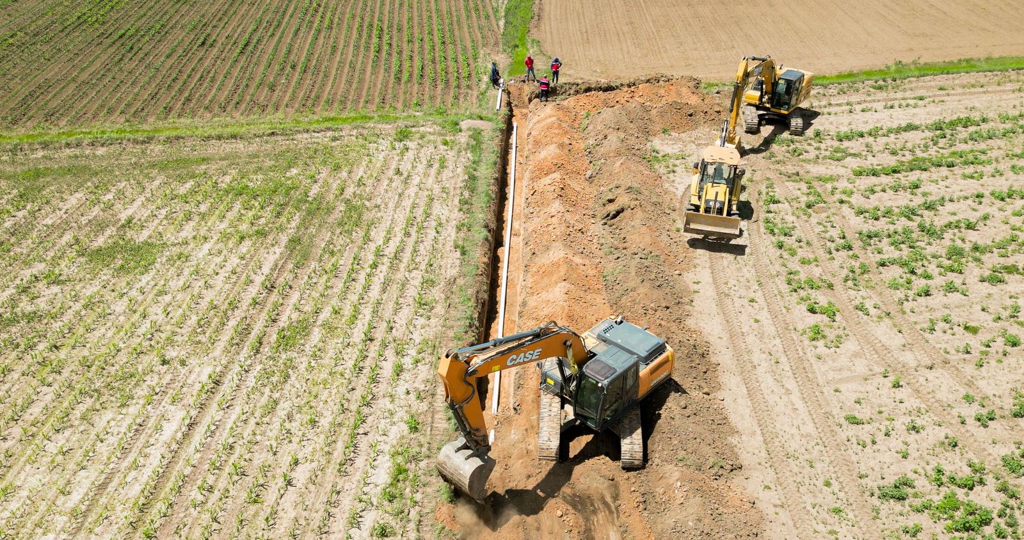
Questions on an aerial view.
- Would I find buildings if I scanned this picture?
No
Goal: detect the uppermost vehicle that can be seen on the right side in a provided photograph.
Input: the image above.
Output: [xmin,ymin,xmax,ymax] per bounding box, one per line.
[709,48,802,144]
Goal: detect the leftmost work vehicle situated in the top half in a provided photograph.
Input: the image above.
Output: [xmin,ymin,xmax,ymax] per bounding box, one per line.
[685,142,744,238]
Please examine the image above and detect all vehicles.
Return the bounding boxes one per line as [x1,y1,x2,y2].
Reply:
[685,142,744,238]
[436,308,673,509]
[709,48,802,144]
